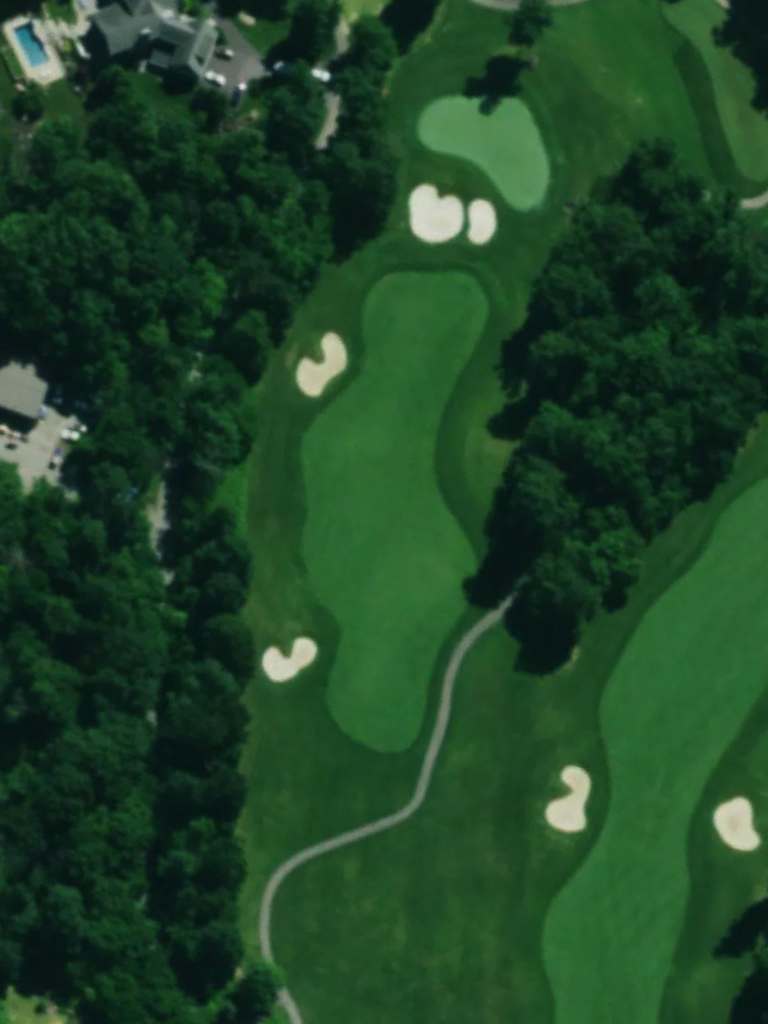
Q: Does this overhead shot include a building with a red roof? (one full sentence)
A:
No, the frame has no building with a red roof in it.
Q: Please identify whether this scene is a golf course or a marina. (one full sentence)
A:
This image shows a golf course.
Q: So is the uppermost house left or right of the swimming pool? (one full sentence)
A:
The uppermost house appears to the right of the swimming pool in this view.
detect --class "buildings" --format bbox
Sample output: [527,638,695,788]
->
[0,365,53,425]
[93,0,219,82]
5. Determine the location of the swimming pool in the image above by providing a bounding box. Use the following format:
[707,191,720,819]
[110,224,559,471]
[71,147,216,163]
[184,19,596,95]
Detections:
[4,15,66,87]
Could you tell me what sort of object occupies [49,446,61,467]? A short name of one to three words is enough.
vehicle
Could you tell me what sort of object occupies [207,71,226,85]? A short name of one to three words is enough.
car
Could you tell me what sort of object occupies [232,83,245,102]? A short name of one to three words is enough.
vehicle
